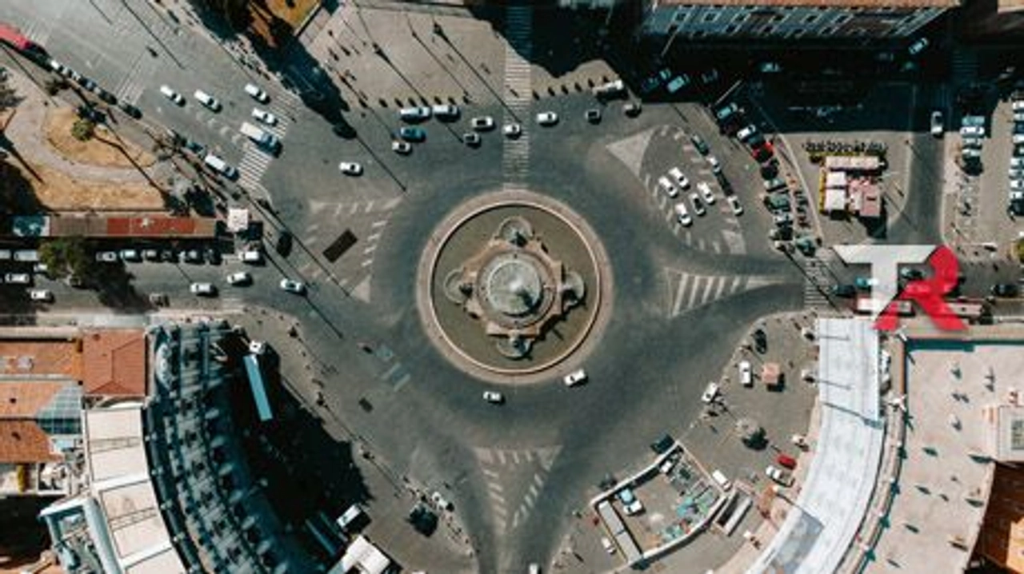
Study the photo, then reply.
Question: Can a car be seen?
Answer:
Yes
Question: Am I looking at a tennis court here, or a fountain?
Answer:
fountain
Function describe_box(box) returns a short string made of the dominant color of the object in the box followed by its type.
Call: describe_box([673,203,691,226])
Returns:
white car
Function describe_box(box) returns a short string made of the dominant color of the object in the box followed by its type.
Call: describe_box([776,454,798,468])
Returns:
red car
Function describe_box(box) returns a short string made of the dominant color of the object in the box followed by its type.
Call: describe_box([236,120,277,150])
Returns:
white truck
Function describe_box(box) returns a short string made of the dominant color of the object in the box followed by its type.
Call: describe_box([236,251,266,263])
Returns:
white vehicle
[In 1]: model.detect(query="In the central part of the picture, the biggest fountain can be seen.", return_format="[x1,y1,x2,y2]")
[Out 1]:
[428,198,604,374]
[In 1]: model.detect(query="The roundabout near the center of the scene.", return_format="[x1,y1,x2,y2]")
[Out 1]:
[338,108,694,464]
